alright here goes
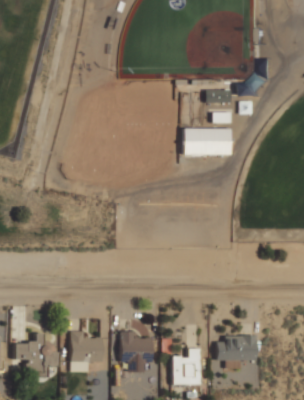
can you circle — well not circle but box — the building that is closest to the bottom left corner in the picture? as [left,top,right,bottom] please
[16,332,59,378]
